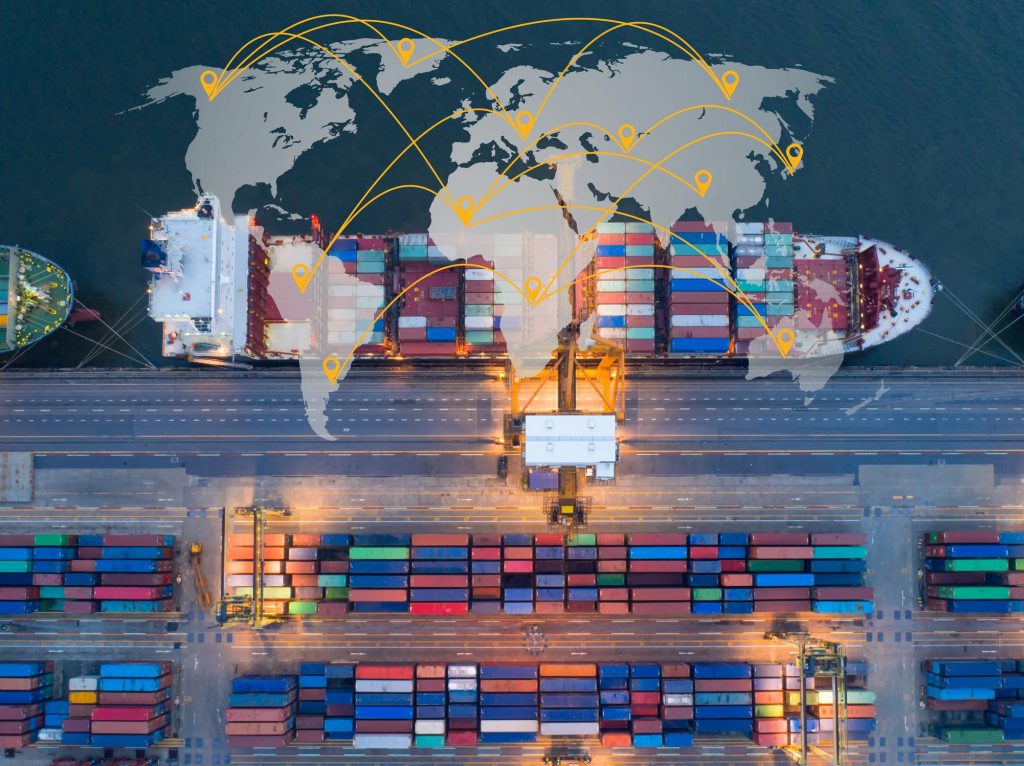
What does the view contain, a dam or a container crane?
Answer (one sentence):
I can see a container crane in this picture.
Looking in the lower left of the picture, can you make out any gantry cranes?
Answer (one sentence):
Yes, a gantry crane shows up in the lower left of the picture.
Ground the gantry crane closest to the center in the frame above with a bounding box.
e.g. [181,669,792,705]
[495,155,622,536]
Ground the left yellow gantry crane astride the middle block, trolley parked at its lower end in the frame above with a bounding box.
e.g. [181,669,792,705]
[218,500,287,632]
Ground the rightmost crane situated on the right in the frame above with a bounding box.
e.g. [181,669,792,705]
[759,632,845,766]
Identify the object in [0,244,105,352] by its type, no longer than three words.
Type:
ship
